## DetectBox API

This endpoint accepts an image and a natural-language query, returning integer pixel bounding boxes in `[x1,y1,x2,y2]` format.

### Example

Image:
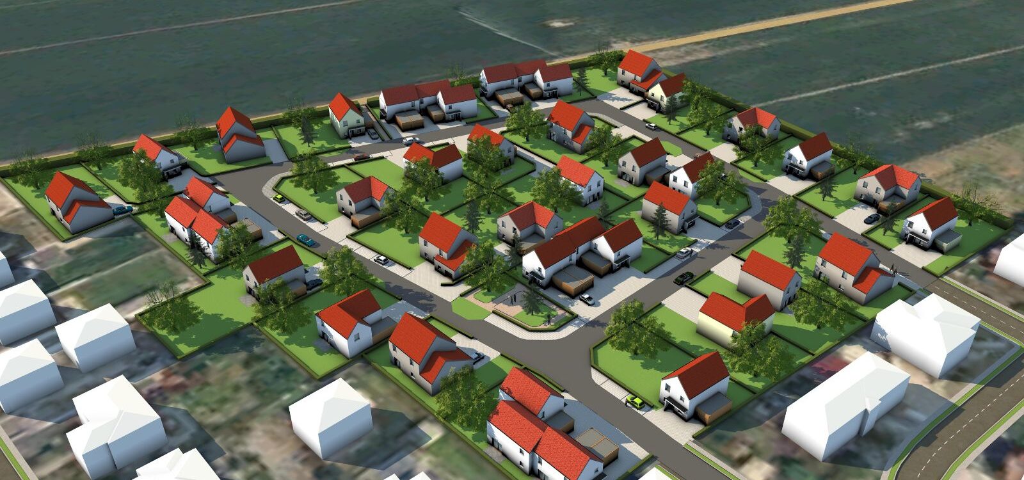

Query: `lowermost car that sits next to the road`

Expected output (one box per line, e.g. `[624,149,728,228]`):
[625,397,646,410]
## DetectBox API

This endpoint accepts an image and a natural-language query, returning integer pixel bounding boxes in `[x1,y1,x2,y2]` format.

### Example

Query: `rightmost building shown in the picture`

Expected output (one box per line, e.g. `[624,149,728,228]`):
[992,236,1024,288]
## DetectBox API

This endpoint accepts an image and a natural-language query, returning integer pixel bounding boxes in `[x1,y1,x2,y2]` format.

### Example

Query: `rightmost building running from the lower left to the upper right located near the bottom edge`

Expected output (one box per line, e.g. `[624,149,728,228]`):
[783,352,910,459]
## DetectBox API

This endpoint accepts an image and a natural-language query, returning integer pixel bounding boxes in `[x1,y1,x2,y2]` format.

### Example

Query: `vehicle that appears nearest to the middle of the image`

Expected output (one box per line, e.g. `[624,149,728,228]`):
[578,293,596,306]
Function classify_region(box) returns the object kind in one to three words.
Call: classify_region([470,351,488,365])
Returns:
car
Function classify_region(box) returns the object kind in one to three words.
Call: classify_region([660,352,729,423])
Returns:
house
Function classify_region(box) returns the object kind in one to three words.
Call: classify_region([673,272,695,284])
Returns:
vehicle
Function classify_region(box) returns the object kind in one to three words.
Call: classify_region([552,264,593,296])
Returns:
building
